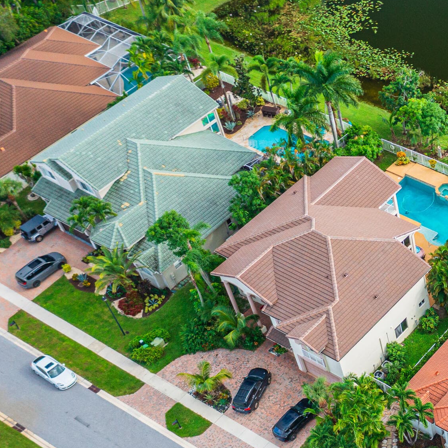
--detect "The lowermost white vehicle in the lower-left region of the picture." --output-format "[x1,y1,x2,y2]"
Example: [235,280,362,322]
[28,357,81,393]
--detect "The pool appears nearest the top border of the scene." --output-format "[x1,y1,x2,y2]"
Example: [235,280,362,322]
[246,123,334,160]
